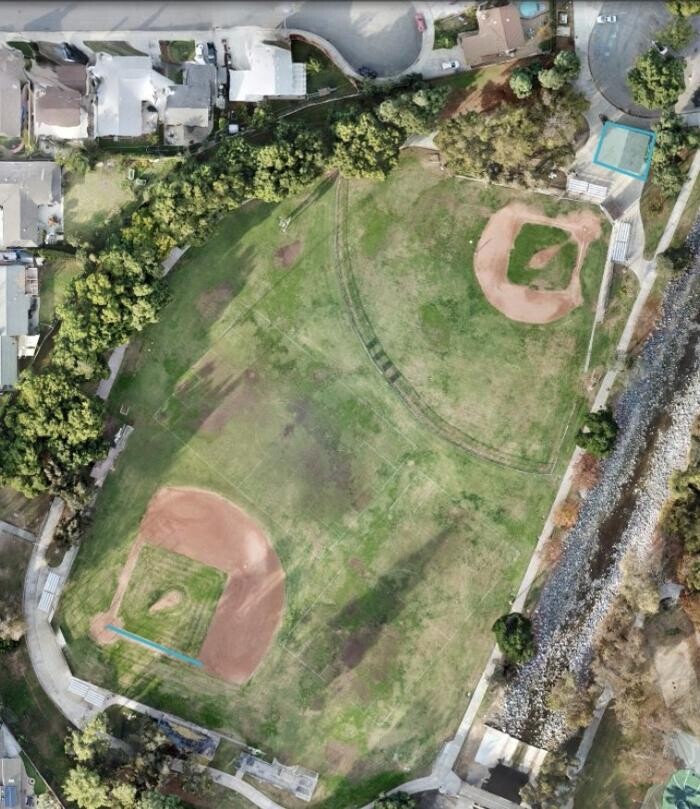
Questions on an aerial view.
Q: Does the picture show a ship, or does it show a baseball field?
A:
baseball field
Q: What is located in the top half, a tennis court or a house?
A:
house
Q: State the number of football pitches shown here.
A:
two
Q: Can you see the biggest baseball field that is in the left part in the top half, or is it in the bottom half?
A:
bottom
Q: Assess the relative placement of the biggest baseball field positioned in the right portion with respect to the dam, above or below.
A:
above it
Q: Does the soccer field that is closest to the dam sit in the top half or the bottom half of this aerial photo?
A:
bottom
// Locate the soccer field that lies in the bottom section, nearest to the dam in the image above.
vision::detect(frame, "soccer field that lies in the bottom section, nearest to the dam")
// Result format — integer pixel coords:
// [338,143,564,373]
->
[283,474,520,722]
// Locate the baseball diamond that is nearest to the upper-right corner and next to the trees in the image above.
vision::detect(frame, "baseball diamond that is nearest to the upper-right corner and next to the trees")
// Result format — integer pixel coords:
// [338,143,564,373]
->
[337,160,610,472]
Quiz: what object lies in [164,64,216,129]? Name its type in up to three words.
house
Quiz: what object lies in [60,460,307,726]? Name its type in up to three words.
baseball field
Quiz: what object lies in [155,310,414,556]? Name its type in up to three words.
soccer field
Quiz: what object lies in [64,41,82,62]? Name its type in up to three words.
car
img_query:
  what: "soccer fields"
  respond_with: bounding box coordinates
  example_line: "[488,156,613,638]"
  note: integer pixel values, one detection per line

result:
[155,310,414,556]
[283,474,520,722]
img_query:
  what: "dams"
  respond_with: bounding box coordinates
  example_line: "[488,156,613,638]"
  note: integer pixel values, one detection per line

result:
[474,728,551,809]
